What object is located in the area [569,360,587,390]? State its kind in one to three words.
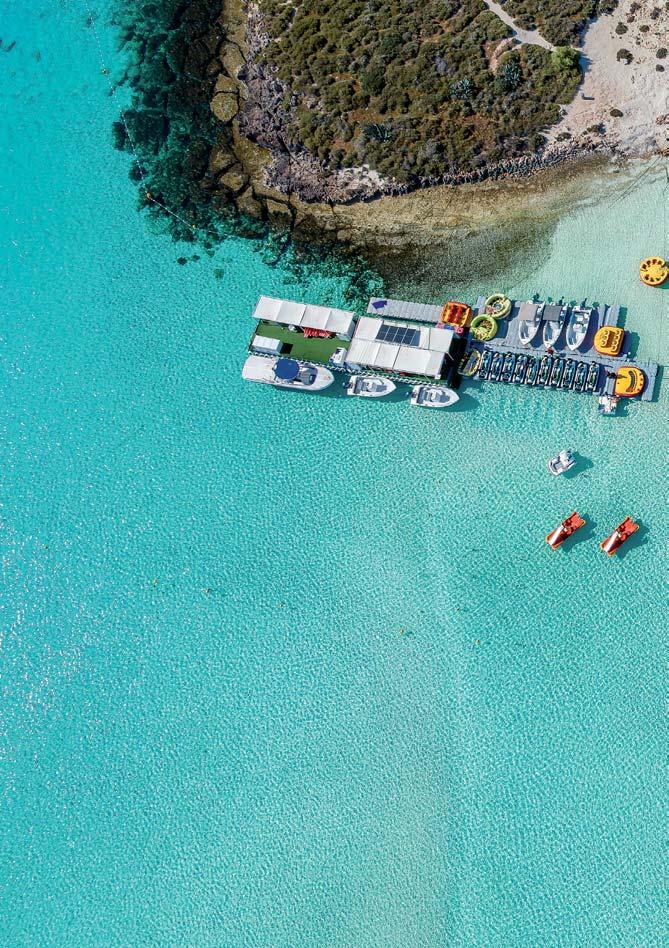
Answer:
boat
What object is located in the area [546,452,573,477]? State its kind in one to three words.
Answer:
boat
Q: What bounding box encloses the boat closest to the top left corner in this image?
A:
[241,354,334,388]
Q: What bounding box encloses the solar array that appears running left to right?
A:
[378,325,420,346]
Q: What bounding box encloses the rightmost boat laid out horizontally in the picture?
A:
[407,383,460,407]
